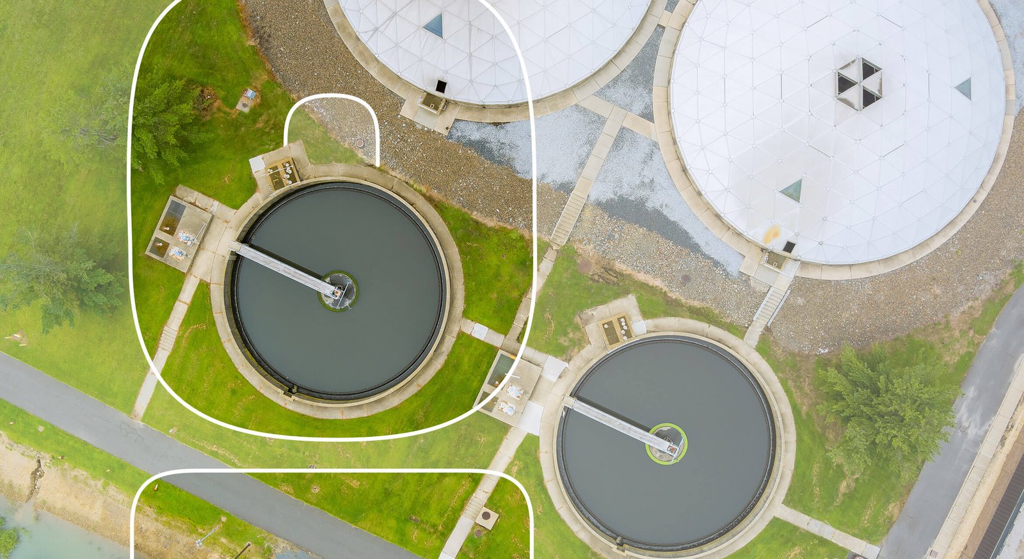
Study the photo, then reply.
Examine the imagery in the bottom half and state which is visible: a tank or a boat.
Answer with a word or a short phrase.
tank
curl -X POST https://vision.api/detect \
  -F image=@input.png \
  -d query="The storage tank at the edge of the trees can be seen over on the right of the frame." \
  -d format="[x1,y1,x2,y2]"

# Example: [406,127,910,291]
[554,332,782,559]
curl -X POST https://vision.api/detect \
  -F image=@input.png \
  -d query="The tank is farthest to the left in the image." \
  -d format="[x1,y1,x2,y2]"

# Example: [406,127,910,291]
[223,177,451,405]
